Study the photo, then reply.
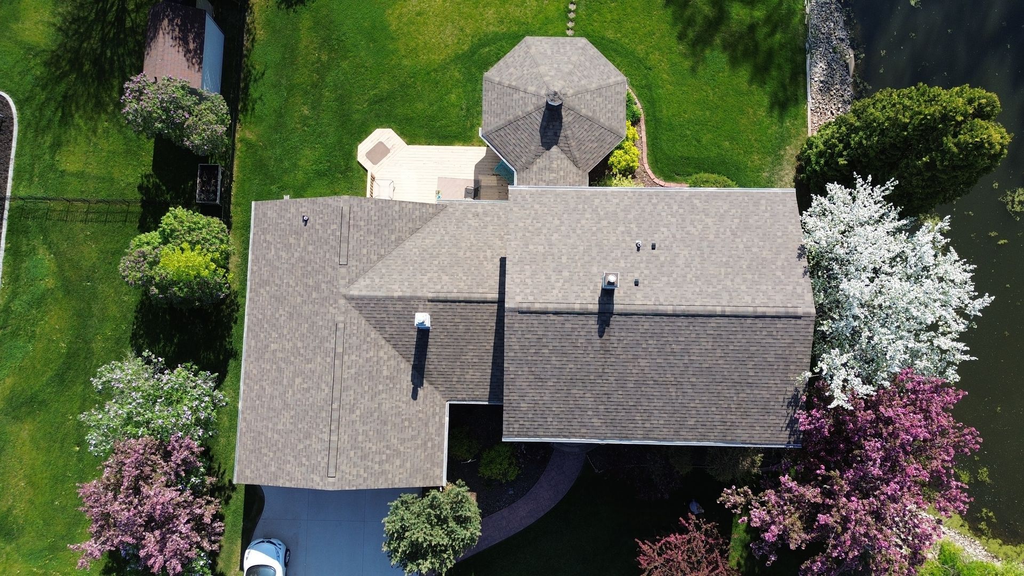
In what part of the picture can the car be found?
bottom left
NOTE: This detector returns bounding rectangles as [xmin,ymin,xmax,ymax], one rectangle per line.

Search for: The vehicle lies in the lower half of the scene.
[241,538,291,576]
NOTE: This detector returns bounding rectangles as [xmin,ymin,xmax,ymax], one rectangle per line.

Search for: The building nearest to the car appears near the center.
[231,182,816,490]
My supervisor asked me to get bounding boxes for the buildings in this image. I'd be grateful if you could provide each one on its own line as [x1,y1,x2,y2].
[146,0,224,109]
[231,182,816,490]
